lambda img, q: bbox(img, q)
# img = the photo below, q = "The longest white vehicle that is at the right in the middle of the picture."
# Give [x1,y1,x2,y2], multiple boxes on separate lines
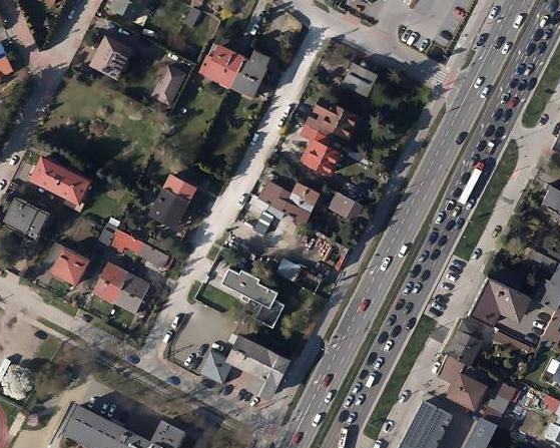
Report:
[458,160,484,205]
